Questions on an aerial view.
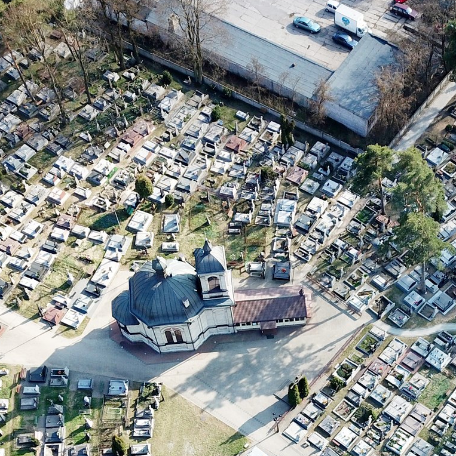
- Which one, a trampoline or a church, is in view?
church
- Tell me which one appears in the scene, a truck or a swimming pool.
truck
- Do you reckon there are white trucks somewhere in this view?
Yes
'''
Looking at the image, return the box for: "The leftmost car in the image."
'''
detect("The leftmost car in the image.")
[293,14,322,33]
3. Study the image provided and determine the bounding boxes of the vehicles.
[324,0,345,14]
[330,29,359,49]
[390,0,415,21]
[329,3,370,41]
[293,14,322,33]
